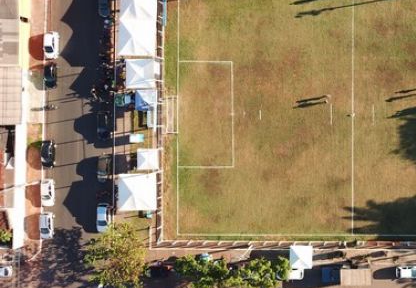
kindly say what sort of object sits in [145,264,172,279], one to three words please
car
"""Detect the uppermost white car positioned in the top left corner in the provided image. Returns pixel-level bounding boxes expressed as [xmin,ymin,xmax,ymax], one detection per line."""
[43,32,59,58]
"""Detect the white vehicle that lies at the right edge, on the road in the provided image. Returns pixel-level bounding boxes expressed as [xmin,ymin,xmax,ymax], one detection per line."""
[396,266,416,279]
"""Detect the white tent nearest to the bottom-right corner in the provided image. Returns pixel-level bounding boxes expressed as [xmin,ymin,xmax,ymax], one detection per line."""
[290,242,314,269]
